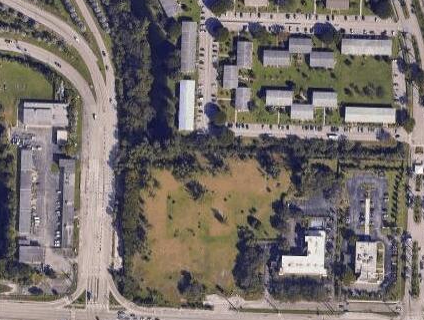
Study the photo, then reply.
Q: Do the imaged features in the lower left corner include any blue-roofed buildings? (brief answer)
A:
No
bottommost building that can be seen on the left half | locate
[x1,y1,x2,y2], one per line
[19,247,44,263]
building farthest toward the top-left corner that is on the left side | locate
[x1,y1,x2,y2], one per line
[23,102,67,126]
